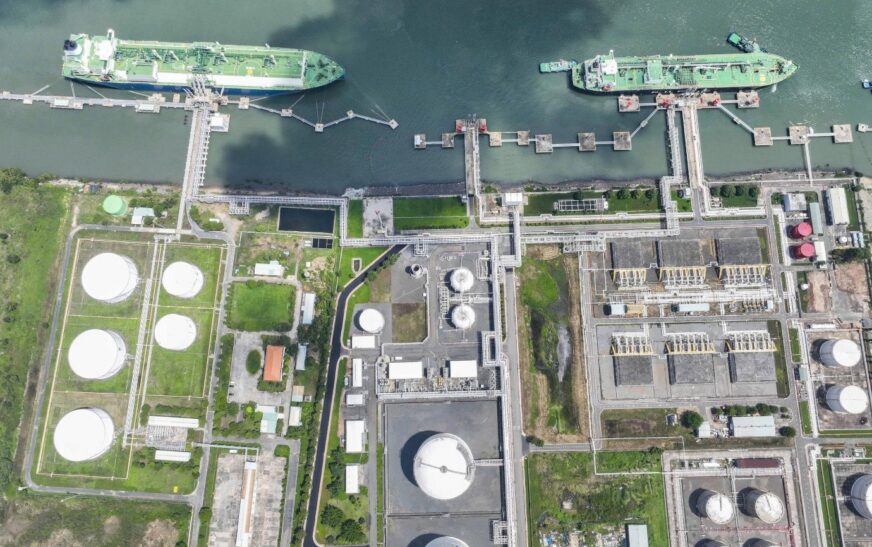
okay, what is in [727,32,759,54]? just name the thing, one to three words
boat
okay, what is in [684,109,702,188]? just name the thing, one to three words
pier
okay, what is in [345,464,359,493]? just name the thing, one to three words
building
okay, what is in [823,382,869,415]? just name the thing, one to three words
storage tank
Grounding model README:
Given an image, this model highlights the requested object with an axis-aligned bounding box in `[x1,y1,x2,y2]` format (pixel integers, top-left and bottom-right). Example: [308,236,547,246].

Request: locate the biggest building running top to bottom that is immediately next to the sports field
[264,345,284,382]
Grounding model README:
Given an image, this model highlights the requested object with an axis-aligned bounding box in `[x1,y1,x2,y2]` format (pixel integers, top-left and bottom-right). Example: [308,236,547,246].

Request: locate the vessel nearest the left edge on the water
[58,30,344,95]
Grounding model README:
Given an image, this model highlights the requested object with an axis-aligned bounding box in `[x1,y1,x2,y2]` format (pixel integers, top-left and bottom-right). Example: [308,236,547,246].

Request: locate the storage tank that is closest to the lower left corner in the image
[52,406,118,463]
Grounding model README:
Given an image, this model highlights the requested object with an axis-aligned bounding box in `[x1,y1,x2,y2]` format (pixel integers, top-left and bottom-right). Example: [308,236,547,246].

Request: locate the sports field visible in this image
[228,284,292,329]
